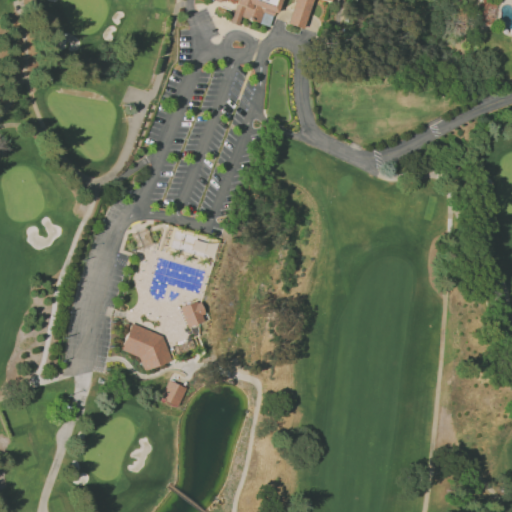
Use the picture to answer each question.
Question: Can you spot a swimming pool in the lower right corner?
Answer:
No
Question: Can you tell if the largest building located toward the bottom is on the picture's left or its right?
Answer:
left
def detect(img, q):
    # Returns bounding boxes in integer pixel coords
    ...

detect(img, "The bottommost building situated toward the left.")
[164,382,188,407]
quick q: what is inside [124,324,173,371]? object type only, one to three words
building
